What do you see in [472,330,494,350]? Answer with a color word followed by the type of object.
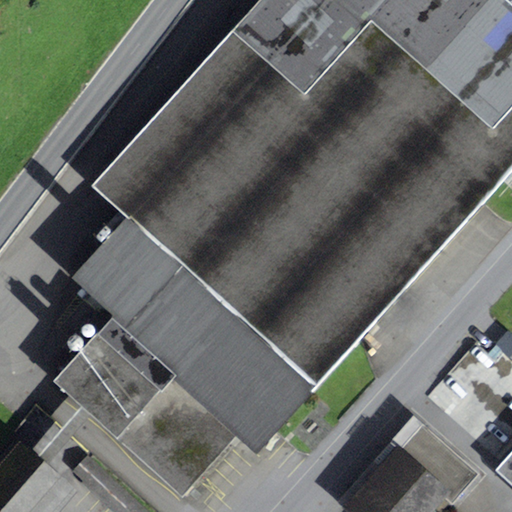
gray car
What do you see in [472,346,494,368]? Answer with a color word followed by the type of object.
white vehicle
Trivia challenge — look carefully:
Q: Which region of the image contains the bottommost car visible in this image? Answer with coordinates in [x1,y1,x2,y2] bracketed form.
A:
[487,423,509,444]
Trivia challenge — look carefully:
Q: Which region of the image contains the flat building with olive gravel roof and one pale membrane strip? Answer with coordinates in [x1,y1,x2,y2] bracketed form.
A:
[394,416,478,504]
